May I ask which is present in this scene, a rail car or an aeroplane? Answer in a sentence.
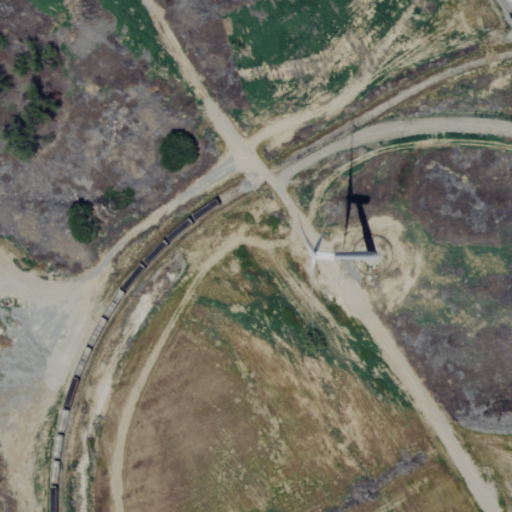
Looking from above, you can make out a rail car.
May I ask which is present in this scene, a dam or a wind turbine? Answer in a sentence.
There is a wind turbine in the scene.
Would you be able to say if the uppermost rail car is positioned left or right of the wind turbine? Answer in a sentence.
Looking at the photo, the uppermost rail car lies to the left of the wind turbine.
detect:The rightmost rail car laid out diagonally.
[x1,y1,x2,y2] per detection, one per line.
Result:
[190,198,222,221]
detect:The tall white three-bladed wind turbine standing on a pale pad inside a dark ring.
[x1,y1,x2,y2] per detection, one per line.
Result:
[300,212,384,336]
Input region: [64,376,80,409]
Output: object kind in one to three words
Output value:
rail car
